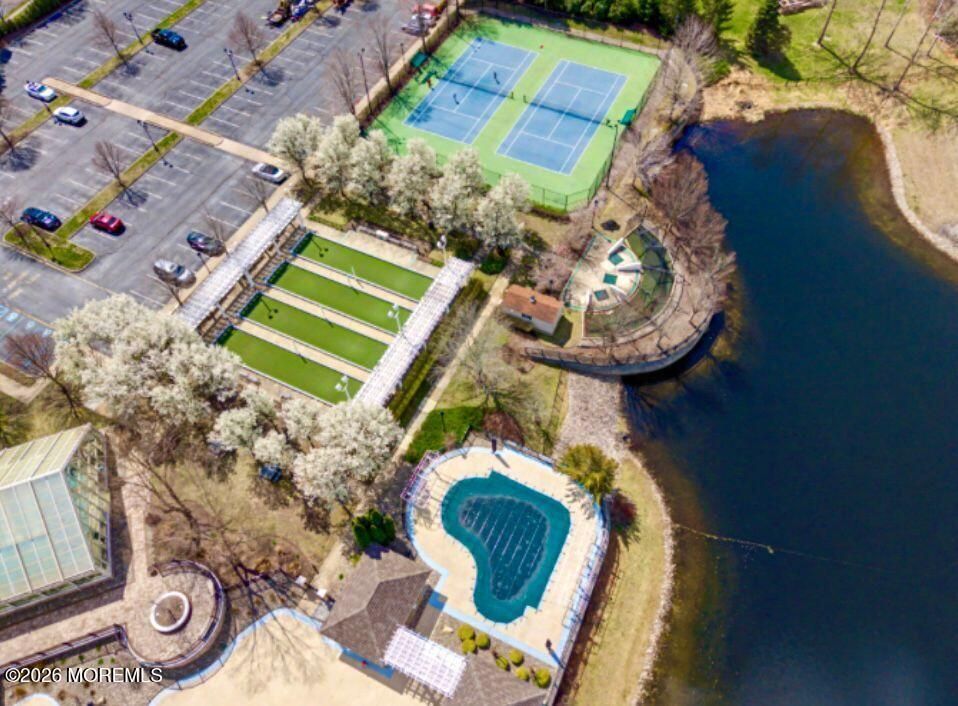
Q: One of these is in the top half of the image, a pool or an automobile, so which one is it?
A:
automobile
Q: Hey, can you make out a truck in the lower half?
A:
No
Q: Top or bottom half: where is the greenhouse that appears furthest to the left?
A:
bottom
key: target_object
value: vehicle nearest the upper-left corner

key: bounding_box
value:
[21,80,57,102]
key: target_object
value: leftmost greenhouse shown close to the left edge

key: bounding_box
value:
[0,420,111,608]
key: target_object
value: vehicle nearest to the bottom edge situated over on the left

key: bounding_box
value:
[152,259,196,287]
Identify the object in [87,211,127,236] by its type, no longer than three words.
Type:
car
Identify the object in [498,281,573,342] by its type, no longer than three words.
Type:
shed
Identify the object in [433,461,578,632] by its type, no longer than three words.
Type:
swimming pool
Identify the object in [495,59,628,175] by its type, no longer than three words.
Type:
tennis court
